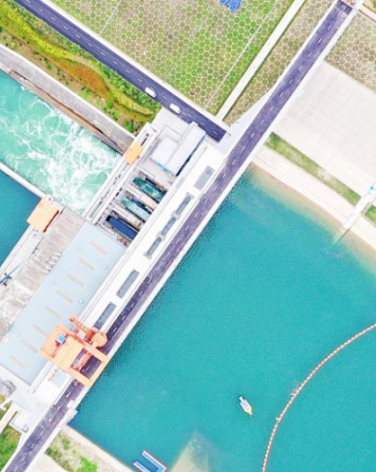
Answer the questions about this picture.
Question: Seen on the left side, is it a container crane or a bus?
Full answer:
The one visible on the left side is a container crane.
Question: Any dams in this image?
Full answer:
Yes, there's a dam here.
